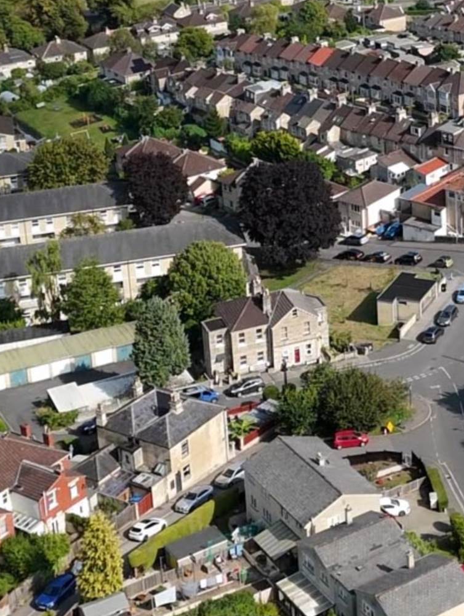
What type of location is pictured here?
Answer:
residential area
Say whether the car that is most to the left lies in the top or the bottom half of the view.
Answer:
bottom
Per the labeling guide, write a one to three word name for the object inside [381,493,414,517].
car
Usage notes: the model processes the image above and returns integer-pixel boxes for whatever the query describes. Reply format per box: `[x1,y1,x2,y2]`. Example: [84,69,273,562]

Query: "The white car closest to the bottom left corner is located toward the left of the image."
[127,514,169,541]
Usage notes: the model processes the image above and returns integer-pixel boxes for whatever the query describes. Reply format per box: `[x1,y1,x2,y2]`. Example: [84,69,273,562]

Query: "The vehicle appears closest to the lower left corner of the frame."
[35,571,77,607]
